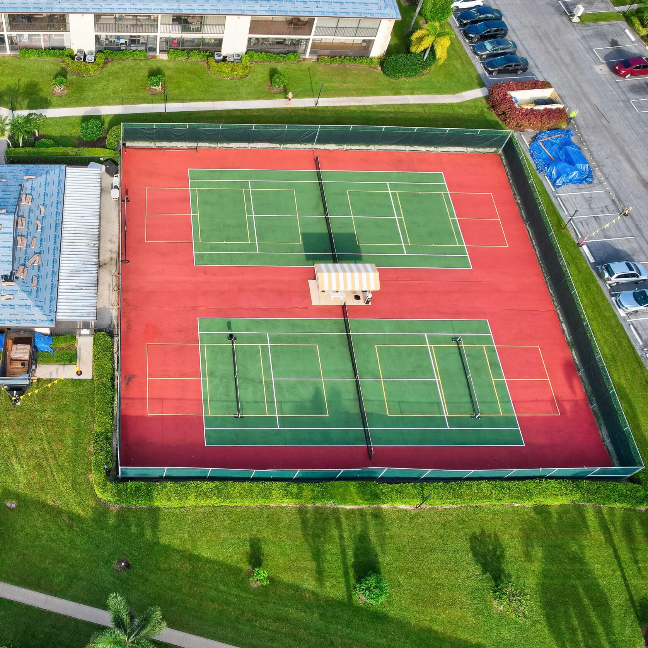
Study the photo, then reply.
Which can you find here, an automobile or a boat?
automobile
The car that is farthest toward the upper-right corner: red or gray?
red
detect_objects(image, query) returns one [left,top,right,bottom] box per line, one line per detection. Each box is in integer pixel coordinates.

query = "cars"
[616,289,648,315]
[460,7,508,27]
[471,35,520,59]
[463,16,510,43]
[614,56,648,78]
[481,53,532,75]
[597,258,648,287]
[447,0,486,11]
